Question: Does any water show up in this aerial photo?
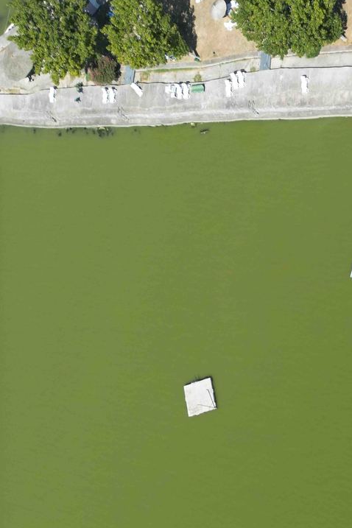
Yes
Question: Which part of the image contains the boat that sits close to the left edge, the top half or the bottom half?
top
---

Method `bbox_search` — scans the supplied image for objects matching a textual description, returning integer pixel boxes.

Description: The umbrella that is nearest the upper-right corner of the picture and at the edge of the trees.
[212,0,231,23]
